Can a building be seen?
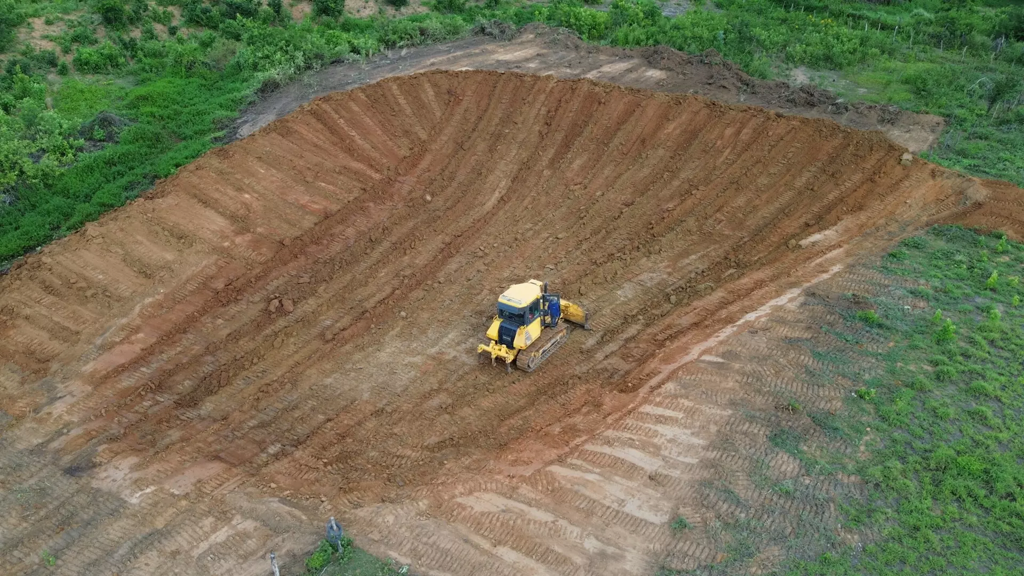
No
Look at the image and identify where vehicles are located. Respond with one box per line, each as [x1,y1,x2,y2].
[476,278,591,378]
